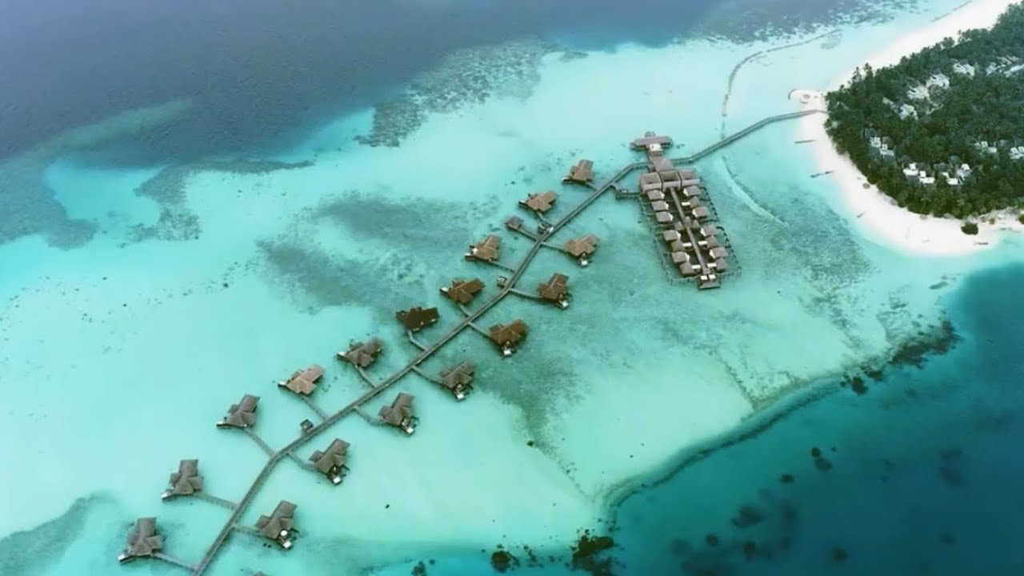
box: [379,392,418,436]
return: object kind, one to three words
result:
house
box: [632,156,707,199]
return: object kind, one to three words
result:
building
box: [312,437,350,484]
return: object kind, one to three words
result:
house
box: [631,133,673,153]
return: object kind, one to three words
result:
building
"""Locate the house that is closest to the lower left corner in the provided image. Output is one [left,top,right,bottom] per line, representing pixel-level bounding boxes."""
[120,514,166,570]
